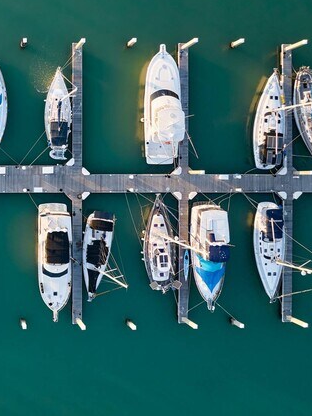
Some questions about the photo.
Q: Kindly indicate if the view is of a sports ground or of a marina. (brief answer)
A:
marina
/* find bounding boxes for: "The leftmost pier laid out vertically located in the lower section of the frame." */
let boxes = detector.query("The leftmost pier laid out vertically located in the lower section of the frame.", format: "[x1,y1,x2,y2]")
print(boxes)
[61,194,83,325]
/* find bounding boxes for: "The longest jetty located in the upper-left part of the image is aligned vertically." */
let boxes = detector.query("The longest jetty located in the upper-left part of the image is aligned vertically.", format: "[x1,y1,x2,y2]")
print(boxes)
[71,43,83,175]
